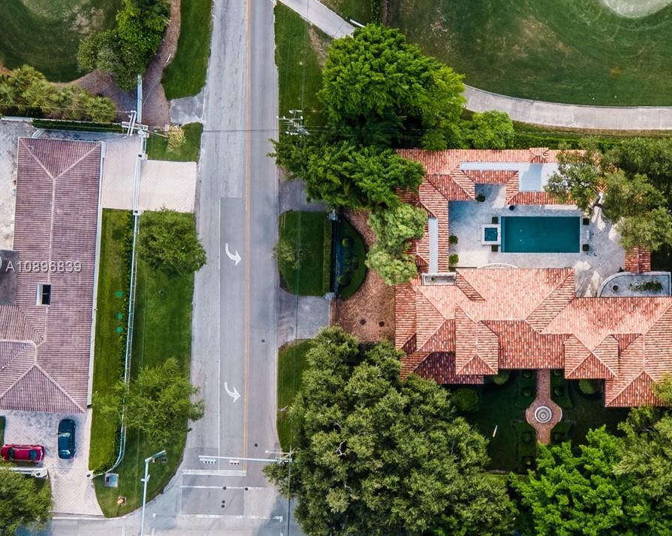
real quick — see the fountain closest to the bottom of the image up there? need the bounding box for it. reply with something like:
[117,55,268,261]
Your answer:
[534,405,552,424]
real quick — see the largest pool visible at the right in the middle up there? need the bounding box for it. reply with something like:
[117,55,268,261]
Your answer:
[500,214,580,253]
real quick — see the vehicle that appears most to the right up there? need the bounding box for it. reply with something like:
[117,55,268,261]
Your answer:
[52,419,74,459]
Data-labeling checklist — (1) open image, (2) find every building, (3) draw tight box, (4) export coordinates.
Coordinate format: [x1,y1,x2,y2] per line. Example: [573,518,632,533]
[395,148,672,408]
[0,138,110,412]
